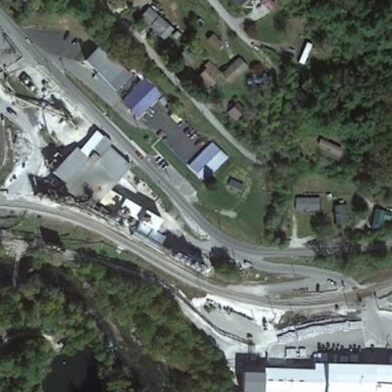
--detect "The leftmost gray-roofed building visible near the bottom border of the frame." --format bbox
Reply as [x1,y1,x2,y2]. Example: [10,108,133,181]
[244,372,265,392]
